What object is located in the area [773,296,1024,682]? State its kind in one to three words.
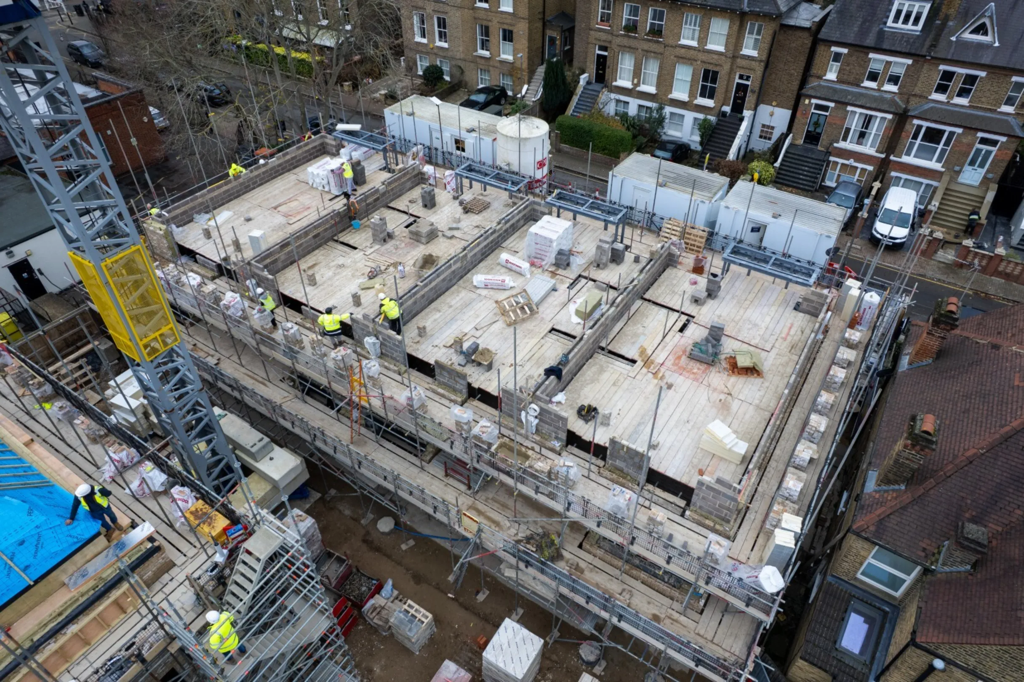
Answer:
house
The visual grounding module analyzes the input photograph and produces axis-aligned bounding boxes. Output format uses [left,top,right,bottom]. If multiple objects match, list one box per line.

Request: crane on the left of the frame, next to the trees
[0,0,241,497]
